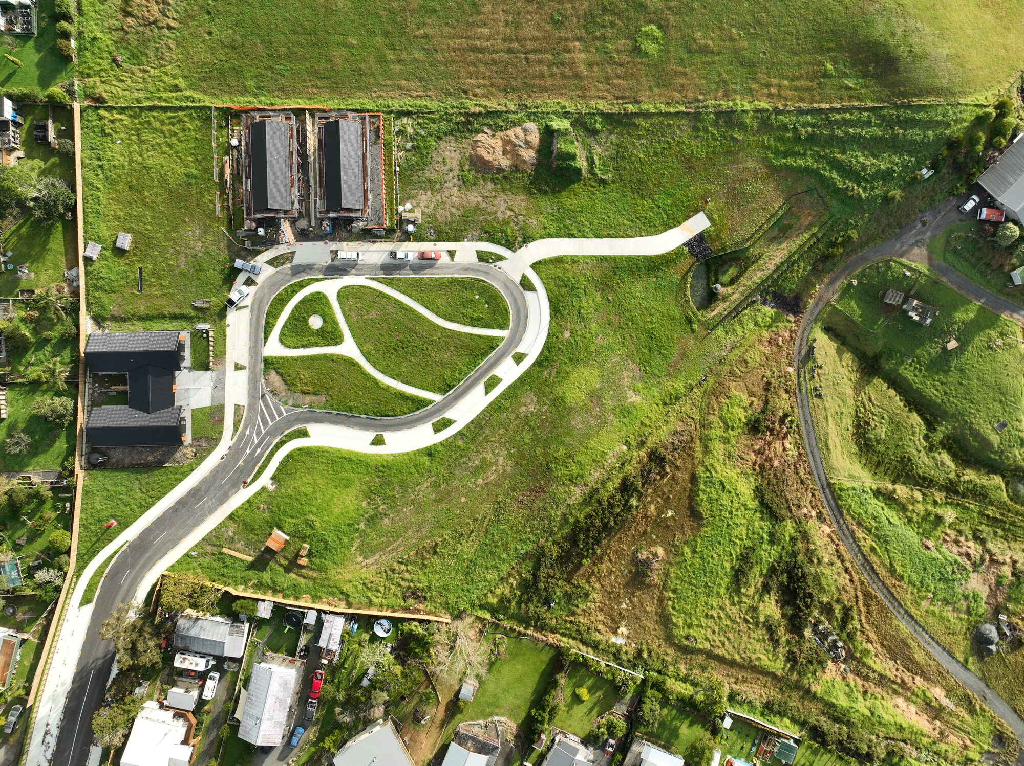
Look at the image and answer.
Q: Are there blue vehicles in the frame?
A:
Yes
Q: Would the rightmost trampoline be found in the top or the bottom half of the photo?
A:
bottom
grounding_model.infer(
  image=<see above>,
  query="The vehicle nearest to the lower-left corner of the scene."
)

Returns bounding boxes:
[2,703,24,734]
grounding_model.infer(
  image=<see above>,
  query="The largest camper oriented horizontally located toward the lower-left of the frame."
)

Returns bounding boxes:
[178,654,220,673]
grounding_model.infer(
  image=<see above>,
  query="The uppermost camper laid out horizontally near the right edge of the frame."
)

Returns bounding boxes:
[968,208,1002,223]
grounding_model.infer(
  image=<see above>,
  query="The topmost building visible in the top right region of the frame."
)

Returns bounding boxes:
[974,129,1024,232]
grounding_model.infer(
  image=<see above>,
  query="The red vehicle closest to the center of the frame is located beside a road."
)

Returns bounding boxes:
[418,249,442,261]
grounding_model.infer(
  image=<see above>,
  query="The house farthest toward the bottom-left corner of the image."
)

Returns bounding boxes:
[0,635,29,692]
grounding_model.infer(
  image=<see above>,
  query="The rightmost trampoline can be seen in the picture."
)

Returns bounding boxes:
[281,612,302,635]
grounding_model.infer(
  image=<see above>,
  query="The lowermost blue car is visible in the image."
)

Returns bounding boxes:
[290,725,306,748]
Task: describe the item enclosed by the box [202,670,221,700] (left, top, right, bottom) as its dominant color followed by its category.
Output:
white car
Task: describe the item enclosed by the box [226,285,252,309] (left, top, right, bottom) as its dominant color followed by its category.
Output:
white truck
